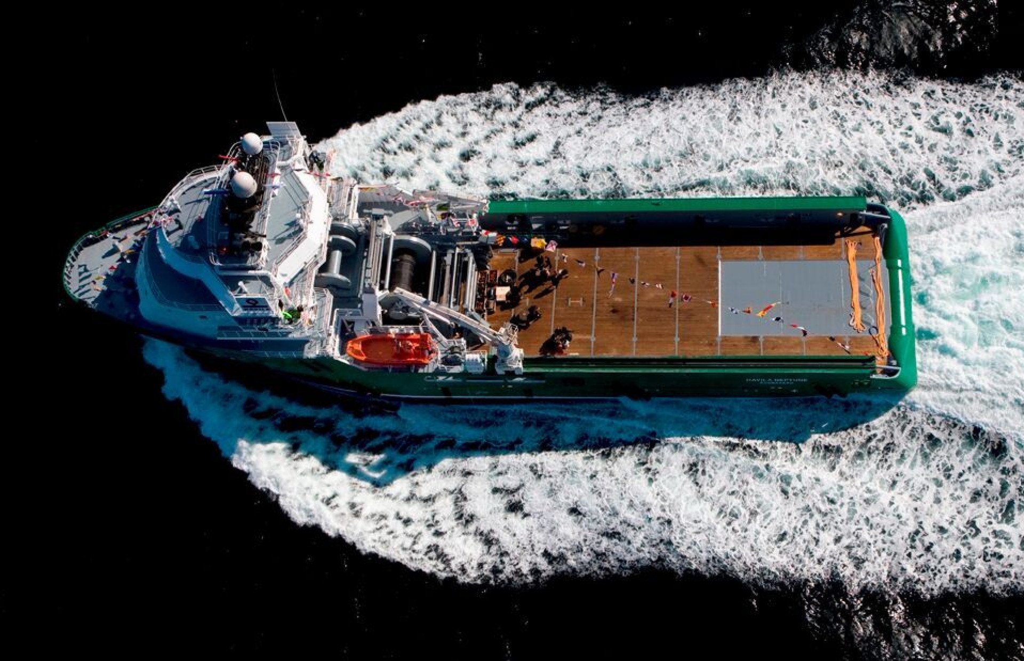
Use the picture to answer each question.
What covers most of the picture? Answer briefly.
water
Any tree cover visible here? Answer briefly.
No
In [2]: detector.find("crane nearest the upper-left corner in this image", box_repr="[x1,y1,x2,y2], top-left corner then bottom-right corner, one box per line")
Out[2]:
[418,187,490,246]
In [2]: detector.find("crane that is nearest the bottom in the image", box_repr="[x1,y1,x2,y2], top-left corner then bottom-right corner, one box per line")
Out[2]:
[389,290,525,377]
